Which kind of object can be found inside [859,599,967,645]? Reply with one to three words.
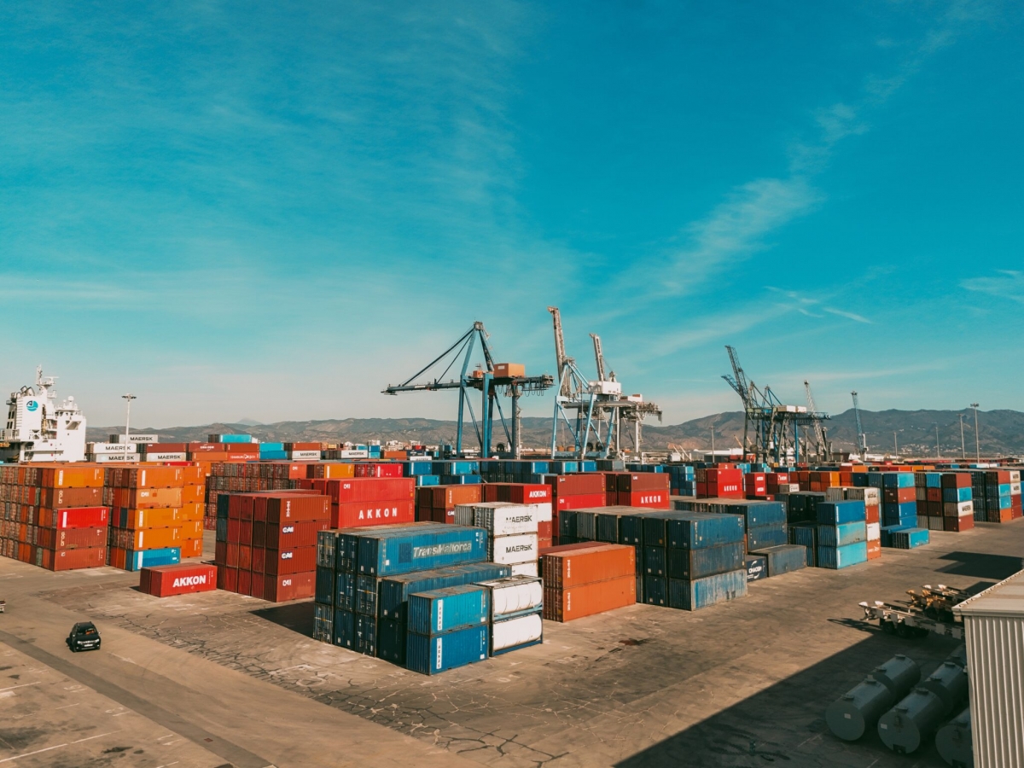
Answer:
trailer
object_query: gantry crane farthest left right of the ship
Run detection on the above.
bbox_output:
[375,315,560,461]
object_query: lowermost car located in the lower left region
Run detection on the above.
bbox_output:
[66,622,104,655]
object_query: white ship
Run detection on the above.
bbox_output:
[0,366,89,462]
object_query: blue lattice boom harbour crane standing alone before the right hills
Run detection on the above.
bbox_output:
[851,392,871,466]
